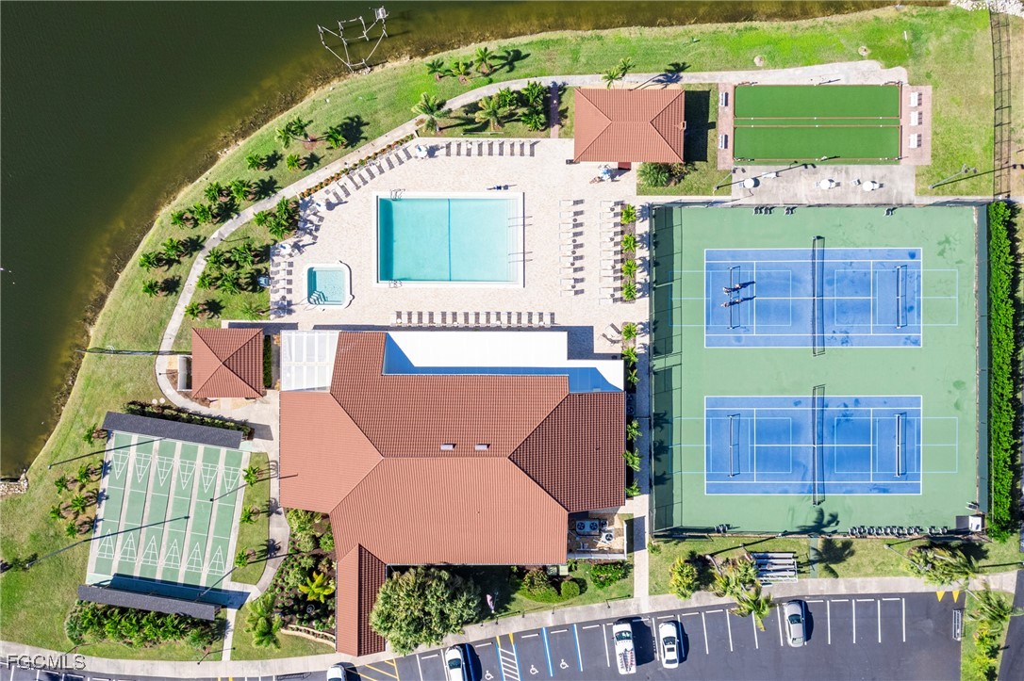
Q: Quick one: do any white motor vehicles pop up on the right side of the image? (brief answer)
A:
Yes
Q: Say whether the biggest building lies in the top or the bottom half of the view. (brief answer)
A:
bottom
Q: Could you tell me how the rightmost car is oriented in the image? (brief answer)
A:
up and down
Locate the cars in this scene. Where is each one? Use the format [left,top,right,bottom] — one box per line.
[446,646,468,681]
[658,619,679,666]
[612,620,635,672]
[329,664,348,681]
[782,599,806,648]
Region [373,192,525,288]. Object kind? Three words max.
swimming pool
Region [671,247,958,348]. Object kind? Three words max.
tennis court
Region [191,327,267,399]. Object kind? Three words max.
building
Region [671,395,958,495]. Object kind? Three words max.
tennis court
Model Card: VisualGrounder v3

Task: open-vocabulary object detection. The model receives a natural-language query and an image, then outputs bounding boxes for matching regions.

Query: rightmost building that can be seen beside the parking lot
[279,330,626,657]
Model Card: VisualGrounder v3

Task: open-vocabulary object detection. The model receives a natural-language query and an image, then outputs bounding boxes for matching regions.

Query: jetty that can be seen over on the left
[318,6,389,77]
